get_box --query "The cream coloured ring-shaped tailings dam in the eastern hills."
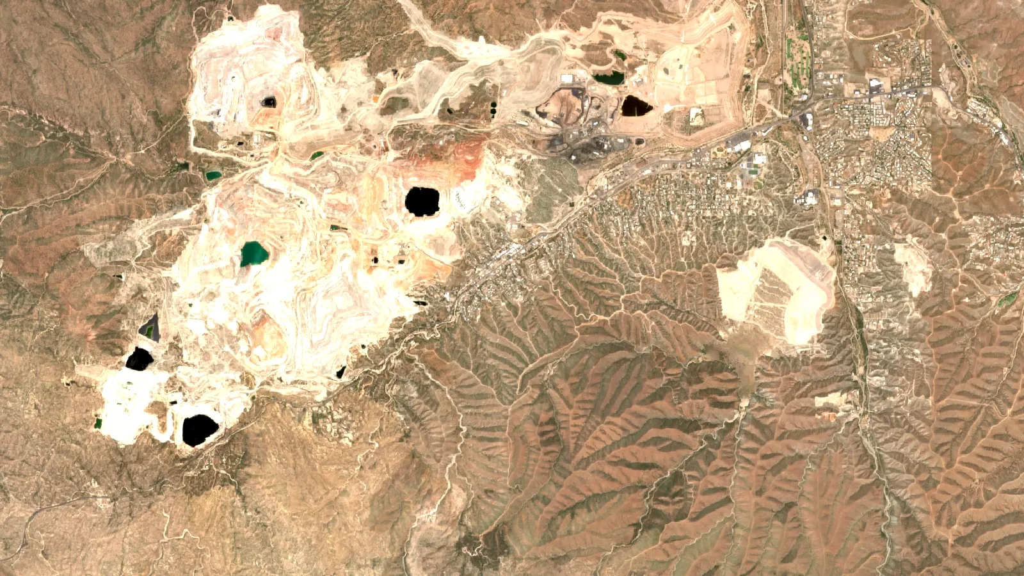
[718,241,836,346]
